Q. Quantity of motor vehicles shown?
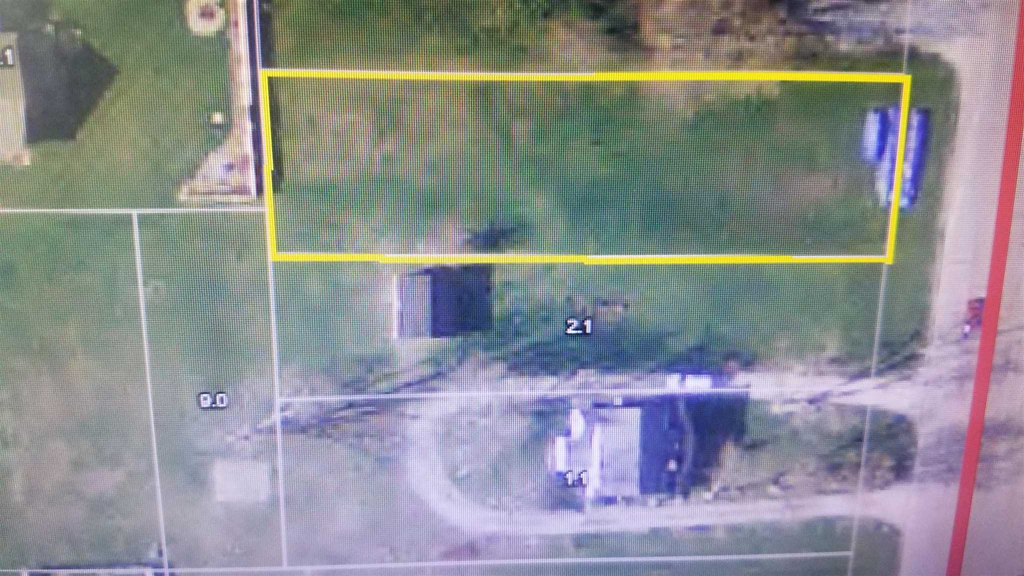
two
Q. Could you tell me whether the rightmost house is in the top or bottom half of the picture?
bottom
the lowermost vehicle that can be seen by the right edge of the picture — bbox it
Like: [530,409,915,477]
[962,298,983,342]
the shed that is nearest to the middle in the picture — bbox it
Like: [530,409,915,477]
[394,274,470,339]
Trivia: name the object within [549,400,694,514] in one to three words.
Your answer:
house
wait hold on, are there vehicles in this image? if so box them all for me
[962,298,983,342]
[665,371,729,394]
